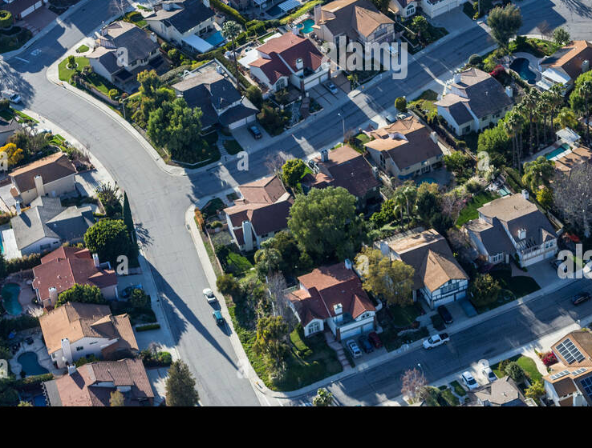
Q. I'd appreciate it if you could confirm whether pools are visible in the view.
Yes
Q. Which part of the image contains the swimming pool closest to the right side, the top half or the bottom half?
top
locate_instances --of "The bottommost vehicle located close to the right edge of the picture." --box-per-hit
[570,292,591,306]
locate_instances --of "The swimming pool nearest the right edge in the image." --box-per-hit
[537,138,579,164]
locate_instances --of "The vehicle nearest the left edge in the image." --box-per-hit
[0,85,23,103]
